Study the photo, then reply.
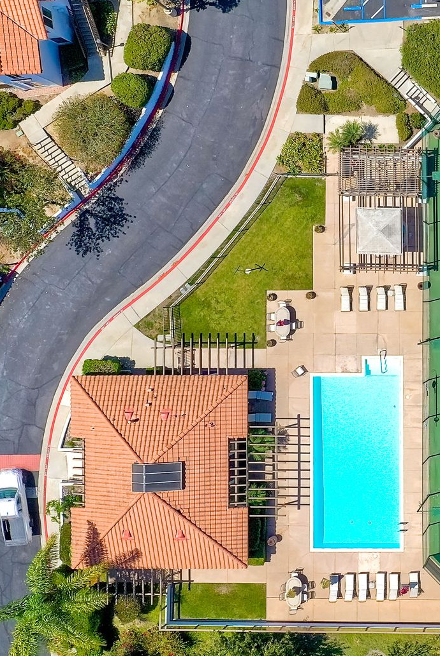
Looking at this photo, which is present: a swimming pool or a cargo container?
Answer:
swimming pool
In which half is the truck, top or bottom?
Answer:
bottom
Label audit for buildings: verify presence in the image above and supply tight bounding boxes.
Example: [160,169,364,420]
[68,373,249,571]
[0,0,68,88]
